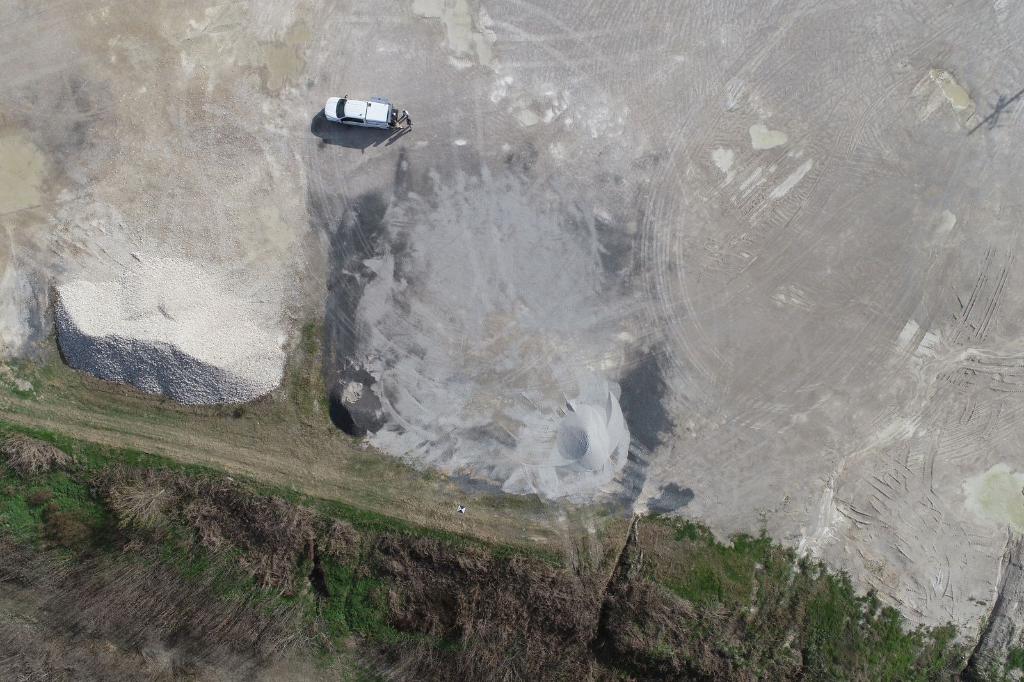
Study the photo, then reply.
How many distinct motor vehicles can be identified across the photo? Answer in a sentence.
The count comes to 1 motor vehicle.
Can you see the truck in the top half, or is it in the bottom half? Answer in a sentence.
The truck sits in the top half of the picture.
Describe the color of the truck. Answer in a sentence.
The truck is white.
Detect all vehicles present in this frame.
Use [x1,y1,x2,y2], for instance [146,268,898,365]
[324,94,399,130]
